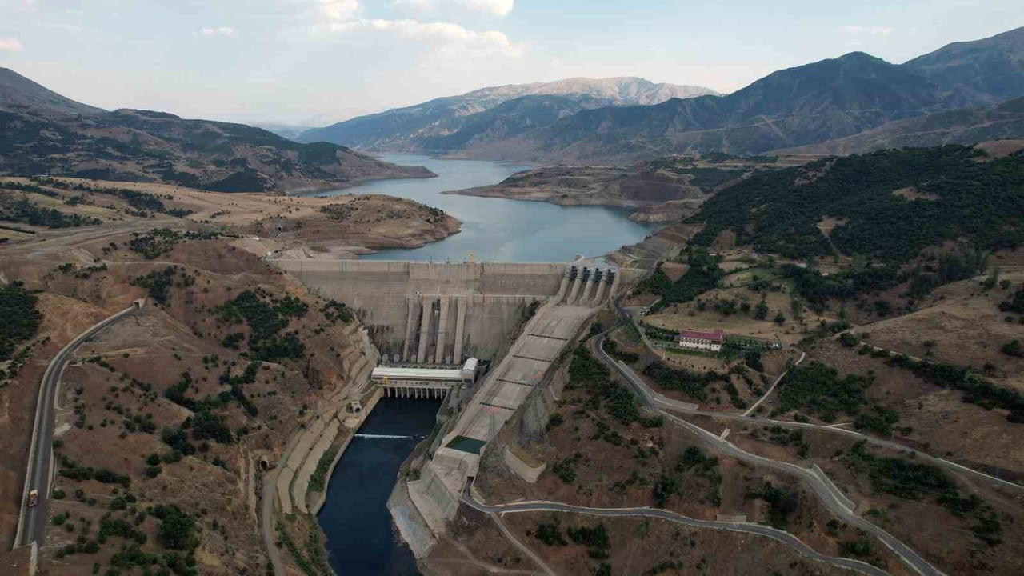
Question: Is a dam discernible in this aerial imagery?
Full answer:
Yes, you can see a dam in this photo.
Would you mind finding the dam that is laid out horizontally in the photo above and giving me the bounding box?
[263,257,567,360]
